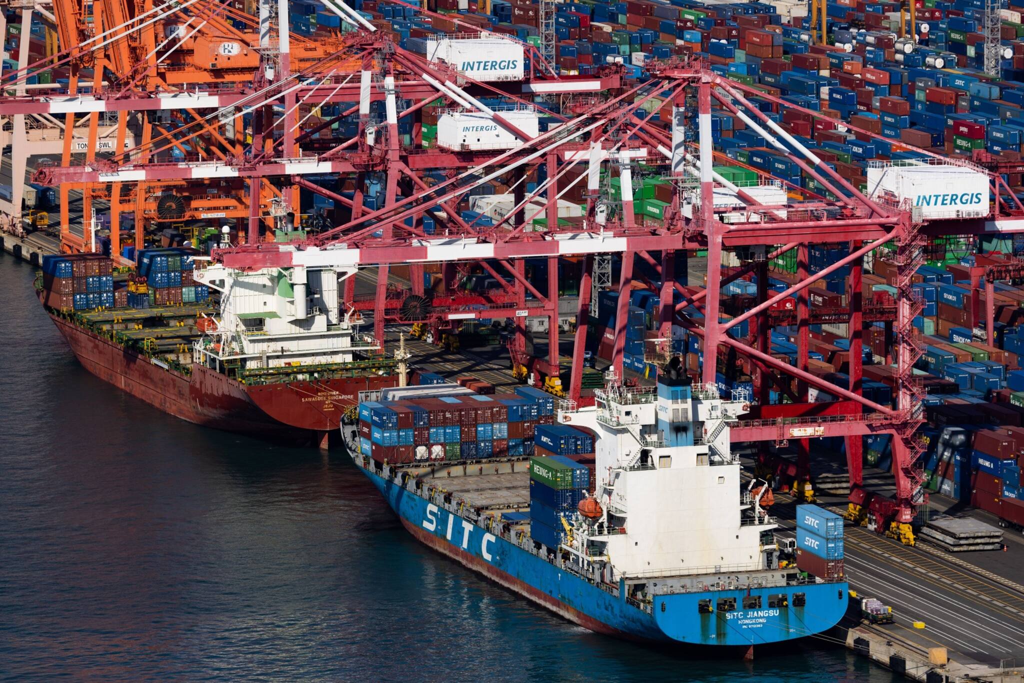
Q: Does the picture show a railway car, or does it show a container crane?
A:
container crane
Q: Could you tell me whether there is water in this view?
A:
Yes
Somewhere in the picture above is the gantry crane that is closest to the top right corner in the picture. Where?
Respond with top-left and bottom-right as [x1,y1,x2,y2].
[929,149,1024,182]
